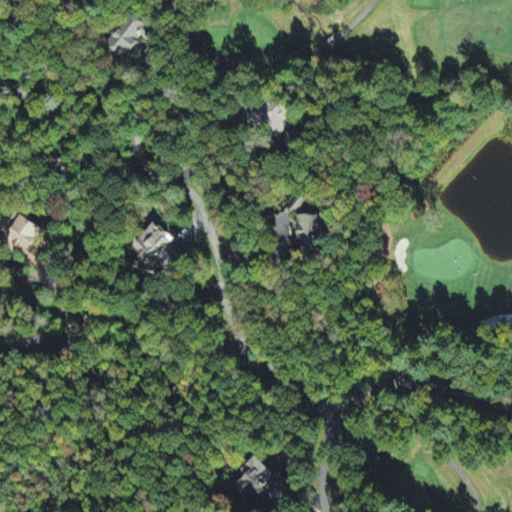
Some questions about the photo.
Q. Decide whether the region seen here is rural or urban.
rural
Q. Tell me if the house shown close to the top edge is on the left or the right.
left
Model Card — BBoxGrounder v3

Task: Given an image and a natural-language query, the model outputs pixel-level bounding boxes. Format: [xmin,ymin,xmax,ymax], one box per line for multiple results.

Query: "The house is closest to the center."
[292,214,316,236]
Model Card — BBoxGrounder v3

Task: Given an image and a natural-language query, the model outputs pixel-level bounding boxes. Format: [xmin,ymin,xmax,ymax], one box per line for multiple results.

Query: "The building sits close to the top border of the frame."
[106,17,149,52]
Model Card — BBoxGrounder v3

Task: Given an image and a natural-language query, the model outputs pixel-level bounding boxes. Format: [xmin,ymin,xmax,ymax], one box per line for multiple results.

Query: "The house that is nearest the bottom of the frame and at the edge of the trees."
[235,456,268,494]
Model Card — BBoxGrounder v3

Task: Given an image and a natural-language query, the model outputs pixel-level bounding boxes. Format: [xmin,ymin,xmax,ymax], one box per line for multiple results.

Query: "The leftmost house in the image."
[8,214,38,252]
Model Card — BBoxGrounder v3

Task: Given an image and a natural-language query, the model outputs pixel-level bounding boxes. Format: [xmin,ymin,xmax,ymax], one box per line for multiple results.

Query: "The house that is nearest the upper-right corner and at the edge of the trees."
[266,104,286,132]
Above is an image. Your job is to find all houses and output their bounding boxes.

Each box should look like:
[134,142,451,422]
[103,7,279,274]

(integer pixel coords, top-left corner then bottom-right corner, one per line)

[266,104,286,132]
[292,214,316,236]
[8,214,38,252]
[129,221,174,262]
[106,17,149,52]
[235,456,268,494]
